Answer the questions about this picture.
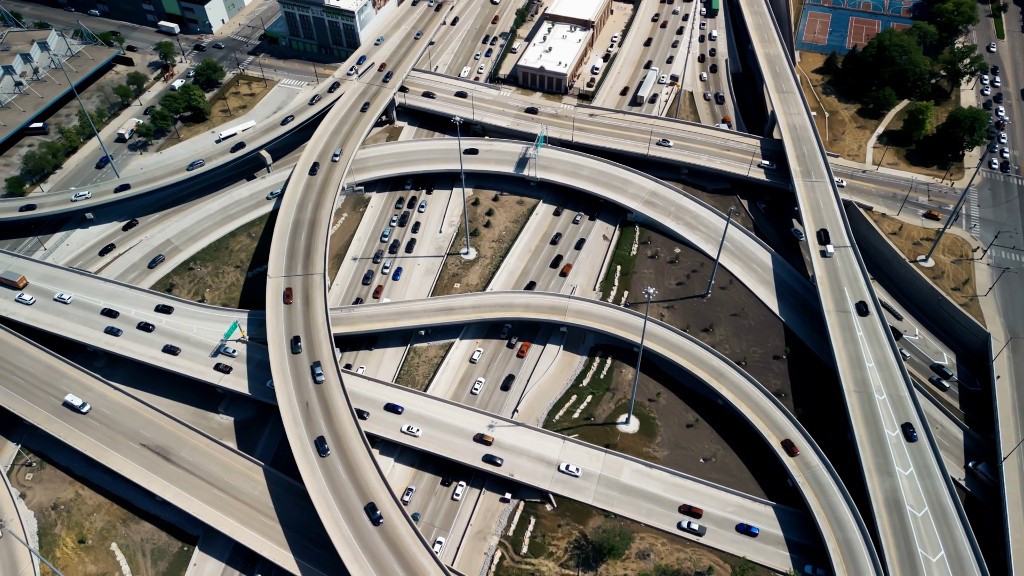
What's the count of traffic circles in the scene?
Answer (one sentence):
The picture shows no traffic circles.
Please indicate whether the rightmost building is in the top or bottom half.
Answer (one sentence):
It is in the top half that the rightmost building appears.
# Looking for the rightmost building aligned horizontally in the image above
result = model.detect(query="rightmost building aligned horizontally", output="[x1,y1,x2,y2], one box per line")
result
[272,0,404,53]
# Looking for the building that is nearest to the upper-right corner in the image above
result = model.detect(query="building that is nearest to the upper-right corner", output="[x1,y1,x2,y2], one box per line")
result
[516,0,622,94]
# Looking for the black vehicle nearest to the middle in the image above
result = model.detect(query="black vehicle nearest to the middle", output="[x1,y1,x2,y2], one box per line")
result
[524,278,536,291]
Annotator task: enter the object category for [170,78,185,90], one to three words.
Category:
vehicle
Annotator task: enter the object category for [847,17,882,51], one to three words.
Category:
tennis court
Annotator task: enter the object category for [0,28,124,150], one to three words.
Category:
building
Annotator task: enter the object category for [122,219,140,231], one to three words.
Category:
vehicle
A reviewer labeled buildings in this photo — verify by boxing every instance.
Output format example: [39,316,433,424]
[11,0,251,34]
[0,28,124,150]
[516,0,622,94]
[272,0,404,53]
